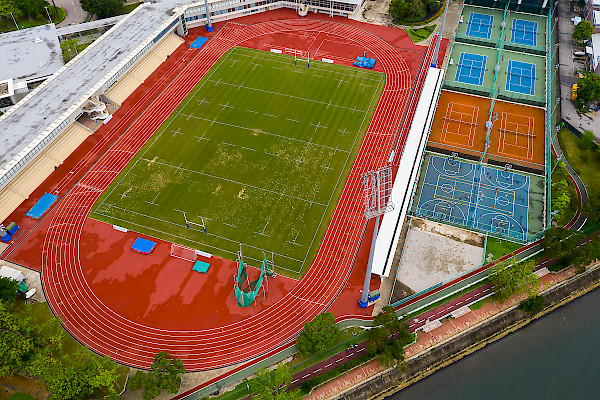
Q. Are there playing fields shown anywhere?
Yes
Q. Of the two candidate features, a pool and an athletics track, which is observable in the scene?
athletics track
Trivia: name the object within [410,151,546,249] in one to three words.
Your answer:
sports court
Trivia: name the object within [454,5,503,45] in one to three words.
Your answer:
tennis court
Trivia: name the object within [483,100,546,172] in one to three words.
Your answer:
tennis court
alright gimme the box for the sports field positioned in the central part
[88,46,386,280]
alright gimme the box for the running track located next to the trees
[42,19,412,369]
